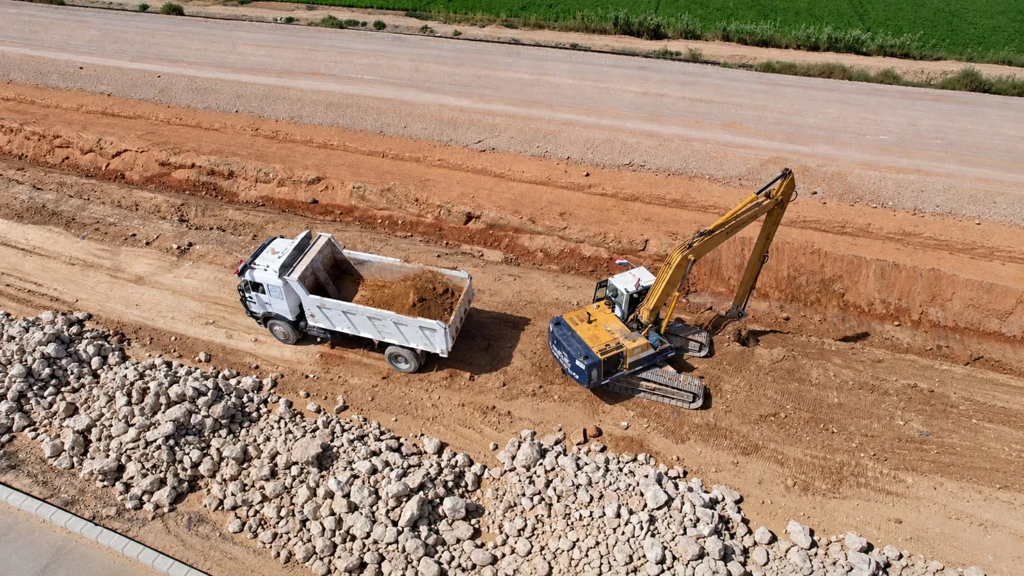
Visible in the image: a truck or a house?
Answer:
truck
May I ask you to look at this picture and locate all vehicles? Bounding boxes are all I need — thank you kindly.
[229,230,476,371]
[550,167,797,406]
